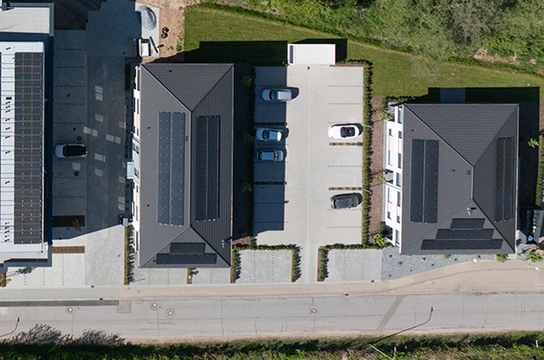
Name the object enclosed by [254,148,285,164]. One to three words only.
car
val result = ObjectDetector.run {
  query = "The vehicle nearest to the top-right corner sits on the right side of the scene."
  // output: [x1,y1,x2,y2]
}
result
[326,123,360,140]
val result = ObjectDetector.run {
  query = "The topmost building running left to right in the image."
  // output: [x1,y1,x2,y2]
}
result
[283,43,335,66]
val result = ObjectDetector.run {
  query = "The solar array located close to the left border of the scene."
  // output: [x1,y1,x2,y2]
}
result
[14,53,42,242]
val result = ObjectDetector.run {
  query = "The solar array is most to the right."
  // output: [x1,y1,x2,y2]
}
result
[491,137,514,222]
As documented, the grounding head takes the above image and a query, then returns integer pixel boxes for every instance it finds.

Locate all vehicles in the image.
[259,87,292,103]
[254,148,285,164]
[327,191,362,209]
[326,123,360,140]
[254,127,283,142]
[55,143,88,159]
